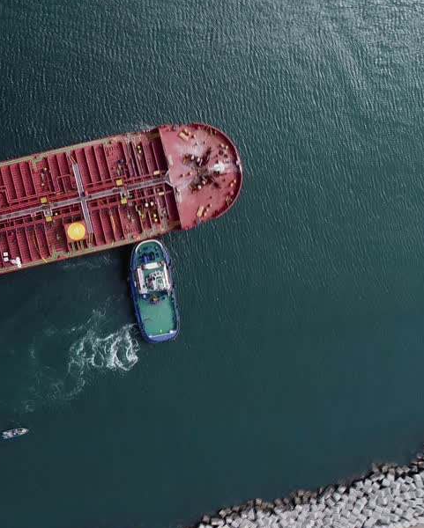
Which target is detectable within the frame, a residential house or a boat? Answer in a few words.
boat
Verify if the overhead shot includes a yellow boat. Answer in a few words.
No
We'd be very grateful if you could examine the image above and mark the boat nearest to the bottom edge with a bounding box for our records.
[0,428,28,440]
